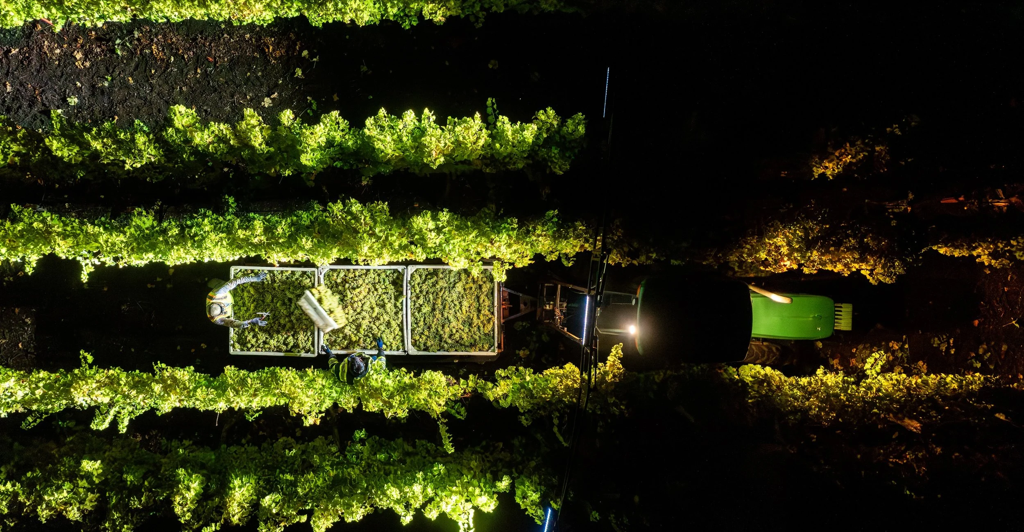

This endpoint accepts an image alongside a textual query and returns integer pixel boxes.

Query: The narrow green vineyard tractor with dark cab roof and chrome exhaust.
[582,262,851,369]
